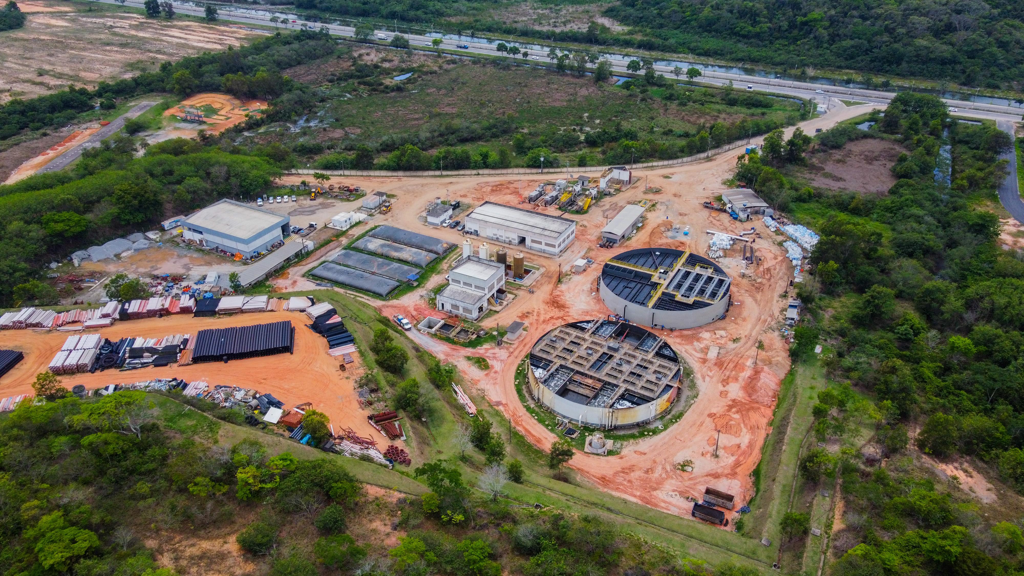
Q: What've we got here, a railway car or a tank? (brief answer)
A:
tank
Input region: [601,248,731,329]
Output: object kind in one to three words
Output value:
storage tank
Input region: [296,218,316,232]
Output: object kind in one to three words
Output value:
vehicle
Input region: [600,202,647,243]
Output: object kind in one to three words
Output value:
shed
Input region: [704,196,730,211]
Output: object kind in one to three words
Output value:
vehicle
